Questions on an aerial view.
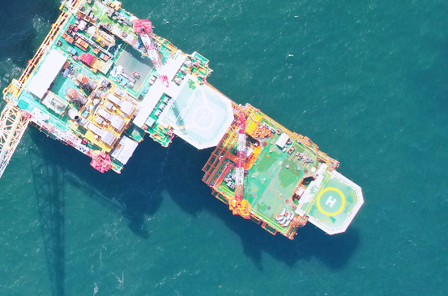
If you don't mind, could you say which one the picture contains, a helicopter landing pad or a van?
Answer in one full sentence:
The one in the frame is a helicopter landing pad.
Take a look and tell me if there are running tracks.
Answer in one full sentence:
No, I can't see a single running track in this photo.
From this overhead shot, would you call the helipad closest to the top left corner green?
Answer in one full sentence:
No, the color of the helipad closest to the top left corner is white.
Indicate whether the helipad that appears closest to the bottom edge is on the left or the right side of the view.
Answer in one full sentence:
The helipad that appears closest to the bottom edge appears in the right half of the scene.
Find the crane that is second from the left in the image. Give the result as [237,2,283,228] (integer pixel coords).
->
[126,13,169,85]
